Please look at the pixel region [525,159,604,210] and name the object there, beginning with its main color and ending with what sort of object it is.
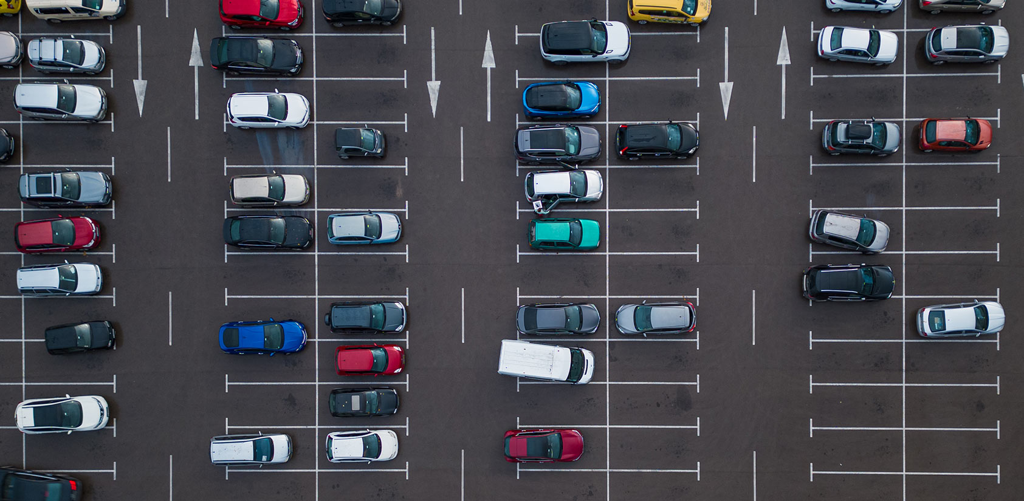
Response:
white car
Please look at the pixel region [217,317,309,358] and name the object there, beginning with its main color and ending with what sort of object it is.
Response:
blue car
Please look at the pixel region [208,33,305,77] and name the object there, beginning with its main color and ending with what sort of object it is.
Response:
black car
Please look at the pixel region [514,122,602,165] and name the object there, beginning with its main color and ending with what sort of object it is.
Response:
black car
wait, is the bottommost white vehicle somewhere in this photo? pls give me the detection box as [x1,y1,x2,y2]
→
[325,426,399,466]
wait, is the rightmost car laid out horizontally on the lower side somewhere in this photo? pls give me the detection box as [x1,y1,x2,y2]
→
[913,298,1007,340]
